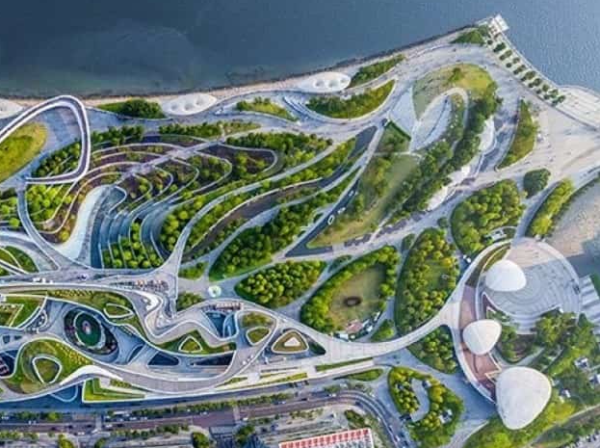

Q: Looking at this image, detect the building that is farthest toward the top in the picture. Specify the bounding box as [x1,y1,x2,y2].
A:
[298,71,350,92]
